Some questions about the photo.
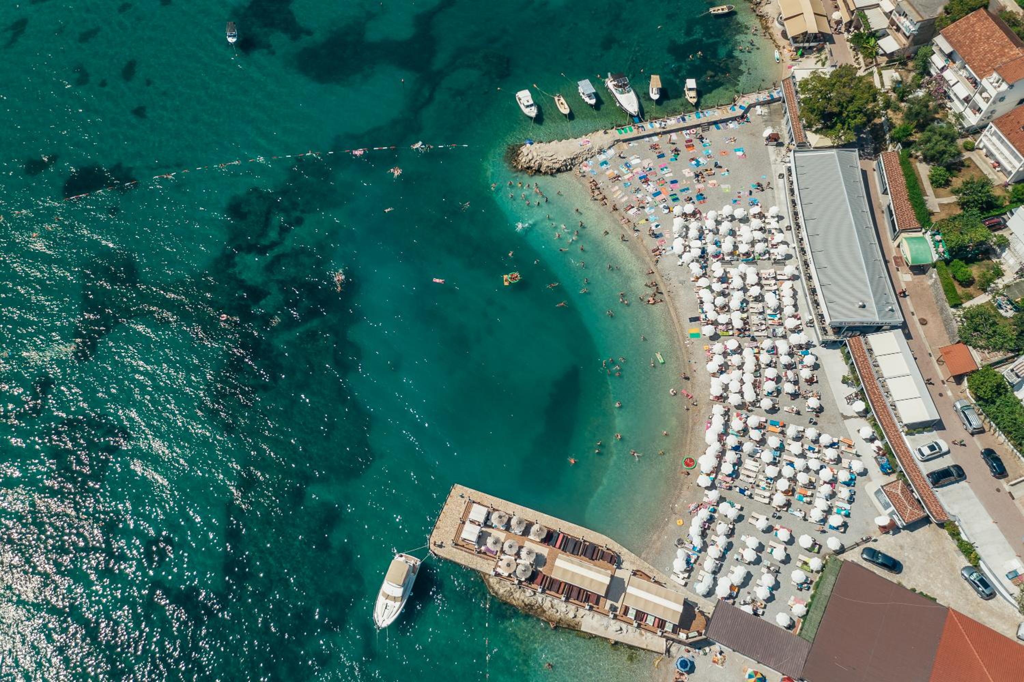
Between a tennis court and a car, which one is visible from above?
car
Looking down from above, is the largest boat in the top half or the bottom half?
bottom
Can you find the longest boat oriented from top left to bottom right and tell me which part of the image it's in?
top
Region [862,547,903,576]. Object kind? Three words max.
car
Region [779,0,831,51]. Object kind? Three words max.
building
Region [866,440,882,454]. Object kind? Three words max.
umbrella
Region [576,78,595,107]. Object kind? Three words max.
boat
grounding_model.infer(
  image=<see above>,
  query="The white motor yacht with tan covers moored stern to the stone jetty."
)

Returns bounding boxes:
[374,548,422,629]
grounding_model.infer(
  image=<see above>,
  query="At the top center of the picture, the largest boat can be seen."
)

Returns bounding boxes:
[601,68,638,117]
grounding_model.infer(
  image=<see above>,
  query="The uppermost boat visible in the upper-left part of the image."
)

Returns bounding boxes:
[224,16,237,45]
